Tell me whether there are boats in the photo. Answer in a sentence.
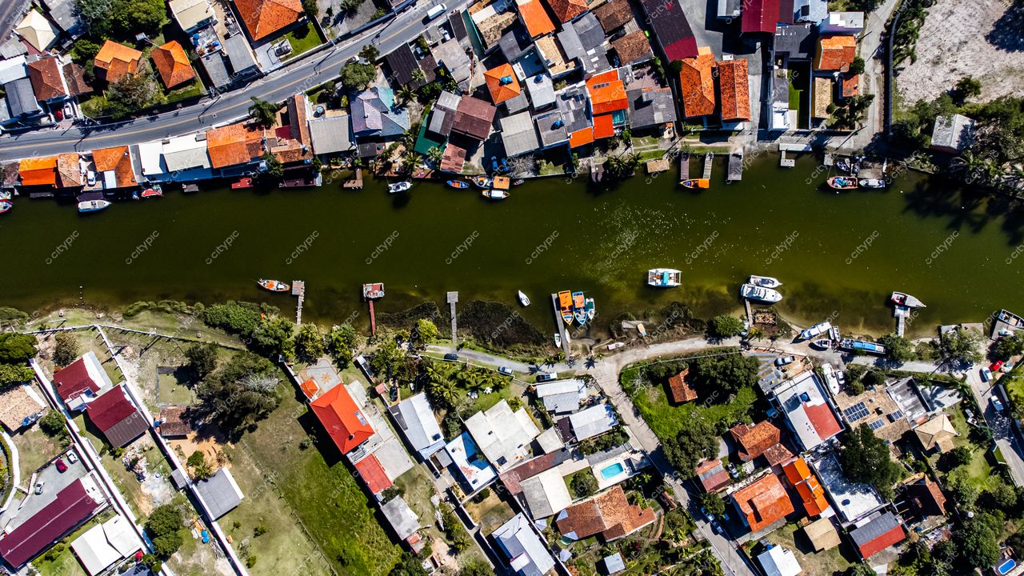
Yes, there's a boat down there.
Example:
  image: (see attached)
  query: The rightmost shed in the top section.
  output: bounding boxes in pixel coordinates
[925,115,976,152]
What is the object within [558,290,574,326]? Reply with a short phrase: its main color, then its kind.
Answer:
orange boat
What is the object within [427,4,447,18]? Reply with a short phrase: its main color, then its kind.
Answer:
white vehicle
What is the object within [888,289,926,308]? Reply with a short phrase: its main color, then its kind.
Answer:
white boat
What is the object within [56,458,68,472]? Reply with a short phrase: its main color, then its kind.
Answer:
red vehicle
